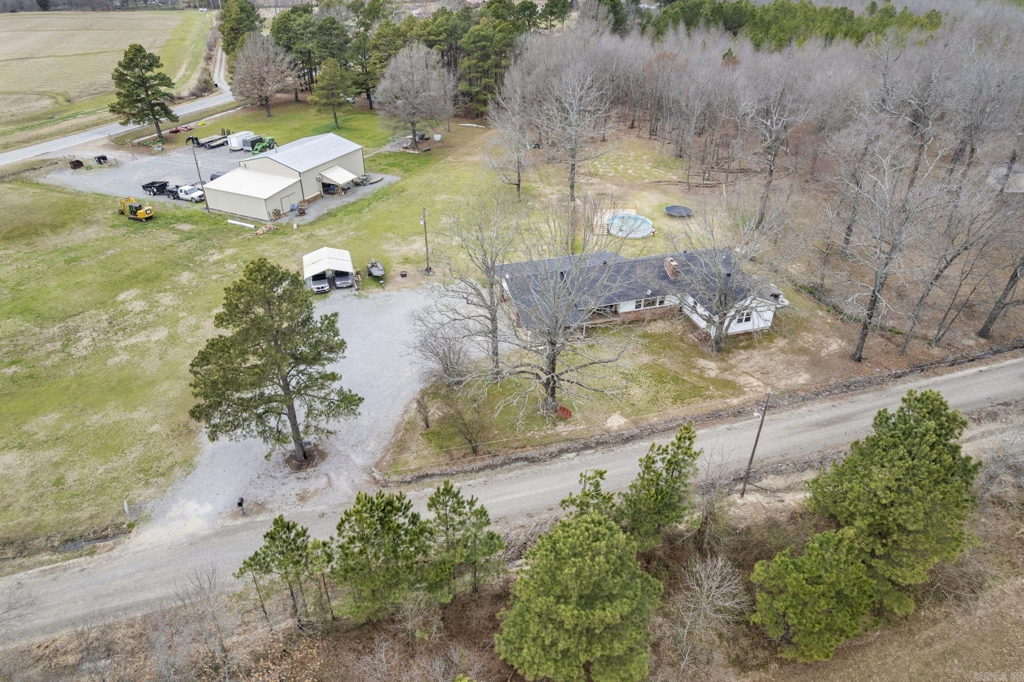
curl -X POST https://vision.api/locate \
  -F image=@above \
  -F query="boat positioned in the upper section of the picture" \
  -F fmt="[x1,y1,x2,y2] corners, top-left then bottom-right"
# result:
[368,254,385,275]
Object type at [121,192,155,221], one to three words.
work vehicle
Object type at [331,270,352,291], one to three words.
vehicle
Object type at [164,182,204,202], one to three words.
vehicle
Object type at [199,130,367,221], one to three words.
building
